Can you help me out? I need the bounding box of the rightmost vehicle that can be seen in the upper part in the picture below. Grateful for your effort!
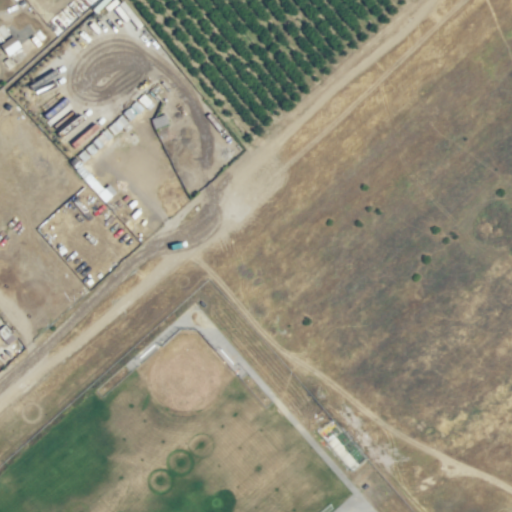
[205,113,231,140]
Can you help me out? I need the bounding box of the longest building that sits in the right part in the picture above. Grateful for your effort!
[330,436,360,471]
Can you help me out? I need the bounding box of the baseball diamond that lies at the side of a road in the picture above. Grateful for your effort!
[0,329,351,512]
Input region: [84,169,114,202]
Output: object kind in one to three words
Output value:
building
